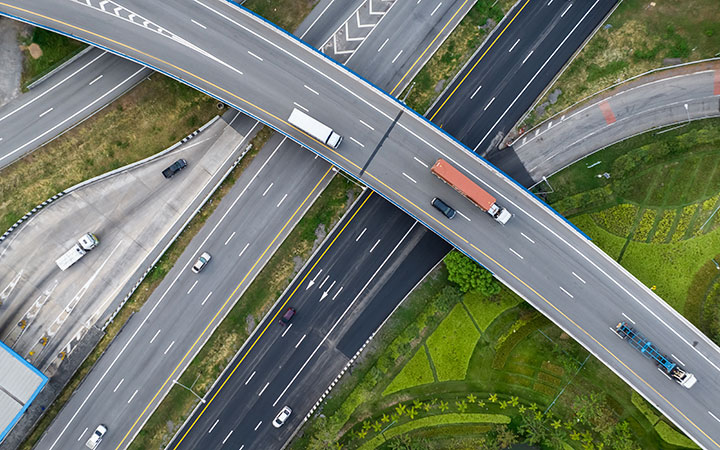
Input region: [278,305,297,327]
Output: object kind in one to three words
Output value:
car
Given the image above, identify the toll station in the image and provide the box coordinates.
[0,338,50,443]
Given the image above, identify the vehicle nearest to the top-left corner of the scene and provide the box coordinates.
[162,160,189,179]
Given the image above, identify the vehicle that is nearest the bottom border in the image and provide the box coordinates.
[86,423,110,450]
